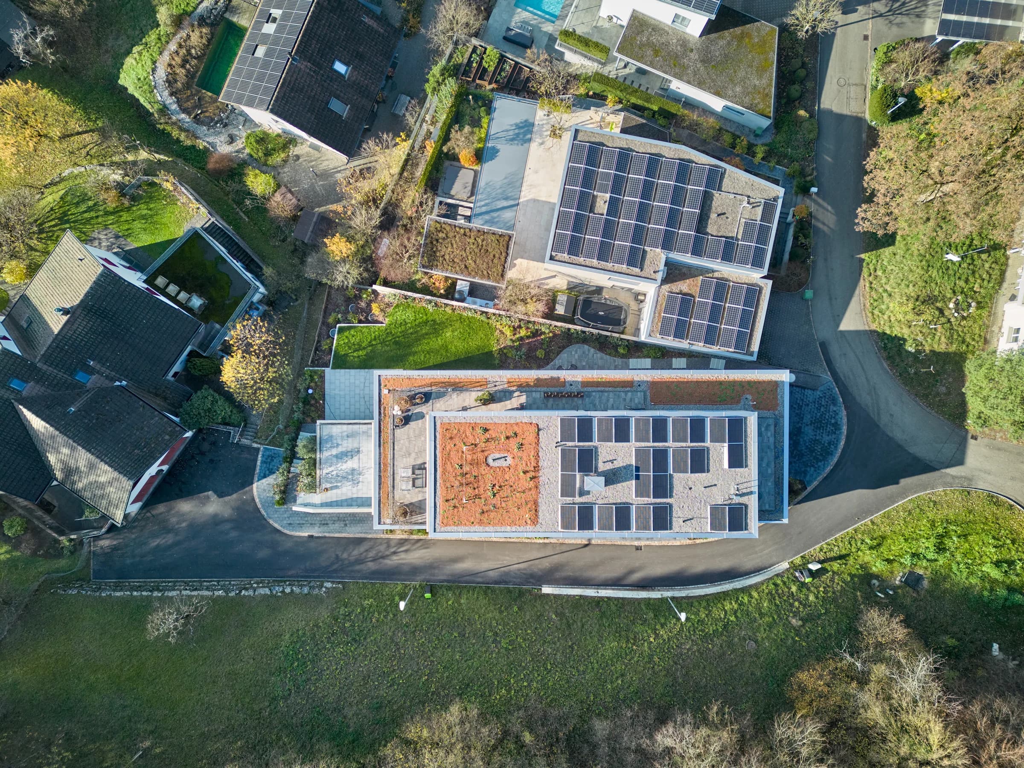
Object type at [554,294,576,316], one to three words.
shed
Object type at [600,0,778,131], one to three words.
house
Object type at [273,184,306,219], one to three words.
shed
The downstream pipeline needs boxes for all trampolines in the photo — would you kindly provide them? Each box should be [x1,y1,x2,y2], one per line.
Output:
[572,290,634,333]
